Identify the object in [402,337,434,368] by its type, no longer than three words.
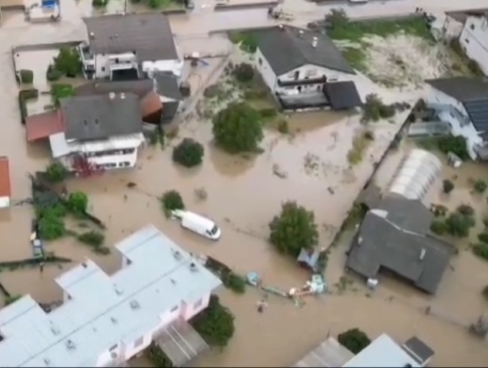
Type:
shed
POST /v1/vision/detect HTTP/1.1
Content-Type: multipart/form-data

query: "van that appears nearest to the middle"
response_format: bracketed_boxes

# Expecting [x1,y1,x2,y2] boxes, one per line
[169,204,222,242]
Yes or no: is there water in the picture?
Yes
